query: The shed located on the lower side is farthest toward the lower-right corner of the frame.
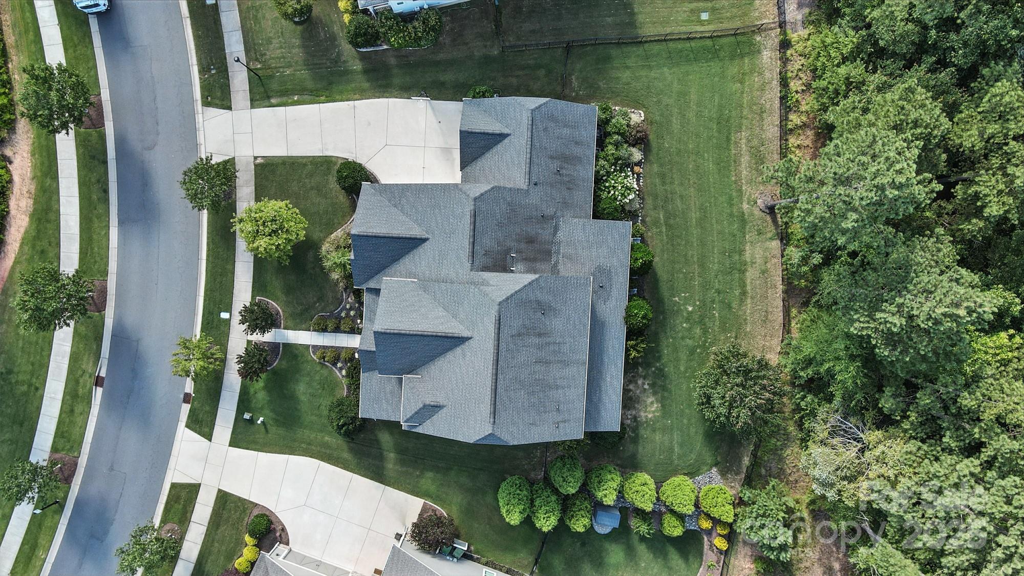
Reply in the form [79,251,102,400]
[595,507,620,530]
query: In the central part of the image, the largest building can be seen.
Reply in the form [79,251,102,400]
[350,97,632,445]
